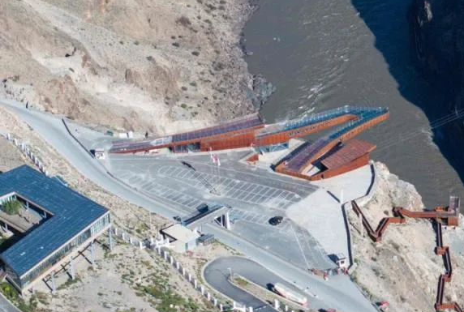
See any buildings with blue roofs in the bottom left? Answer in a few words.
Yes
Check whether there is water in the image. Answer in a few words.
Yes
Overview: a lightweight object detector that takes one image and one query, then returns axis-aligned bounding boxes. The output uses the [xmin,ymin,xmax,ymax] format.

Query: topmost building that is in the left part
[107,106,260,155]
